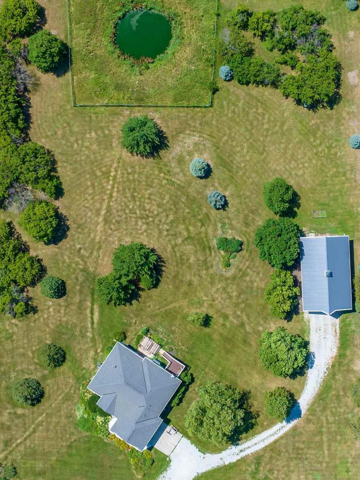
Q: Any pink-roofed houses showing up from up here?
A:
No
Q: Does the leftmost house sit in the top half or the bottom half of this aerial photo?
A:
bottom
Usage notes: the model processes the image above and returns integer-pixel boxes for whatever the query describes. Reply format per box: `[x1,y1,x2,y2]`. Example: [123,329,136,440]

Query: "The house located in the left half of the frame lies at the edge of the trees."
[86,342,182,453]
